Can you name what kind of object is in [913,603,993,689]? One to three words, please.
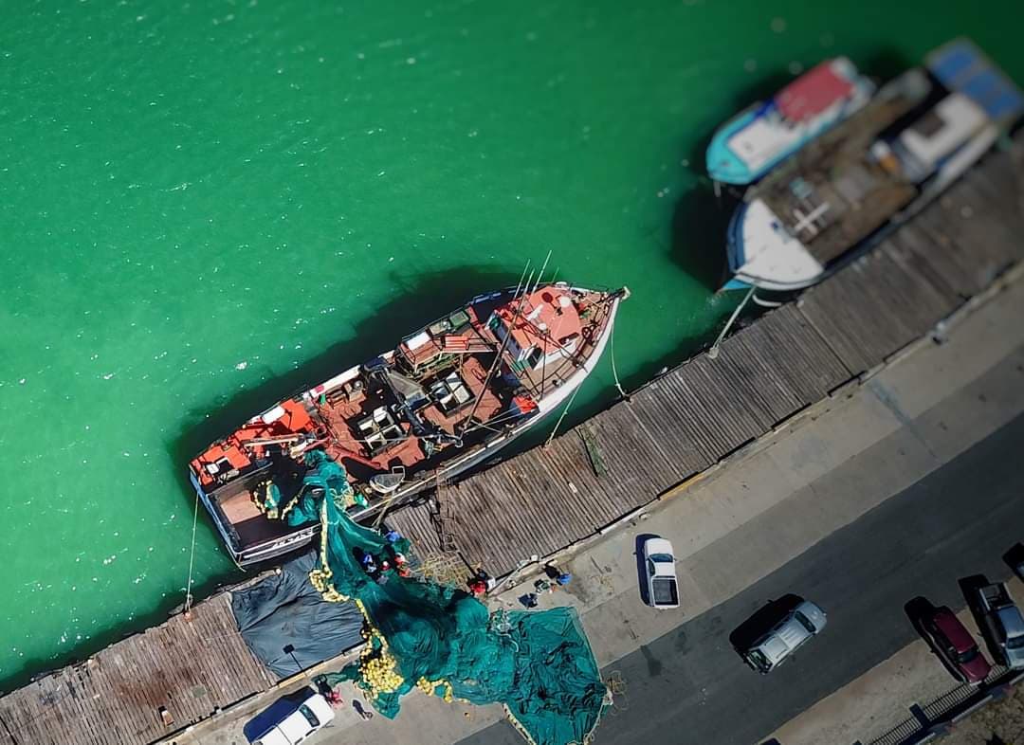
car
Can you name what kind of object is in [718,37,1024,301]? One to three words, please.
boat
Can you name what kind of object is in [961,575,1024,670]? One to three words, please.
car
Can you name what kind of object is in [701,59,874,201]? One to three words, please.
boat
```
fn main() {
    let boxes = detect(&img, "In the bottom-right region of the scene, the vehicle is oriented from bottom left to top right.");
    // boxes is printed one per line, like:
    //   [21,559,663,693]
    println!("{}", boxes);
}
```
[739,597,824,680]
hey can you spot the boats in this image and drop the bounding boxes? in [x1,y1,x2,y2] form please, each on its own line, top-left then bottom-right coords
[718,37,1024,301]
[701,59,874,201]
[191,251,631,574]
